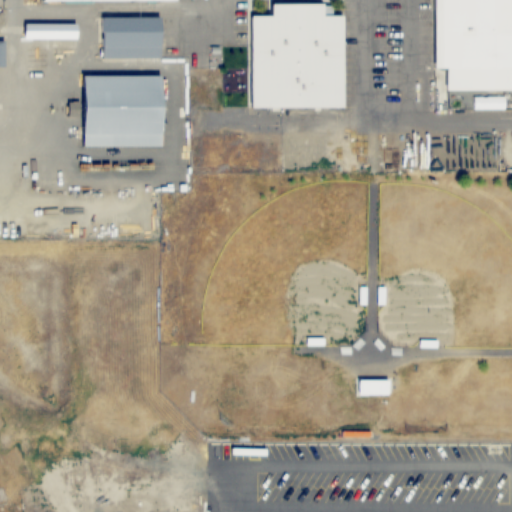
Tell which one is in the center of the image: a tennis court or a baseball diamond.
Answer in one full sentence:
You can see a baseball diamond in the center of the image.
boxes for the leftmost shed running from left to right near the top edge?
[26,24,80,40]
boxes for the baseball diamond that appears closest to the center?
[202,182,368,346]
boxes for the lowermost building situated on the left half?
[83,75,164,146]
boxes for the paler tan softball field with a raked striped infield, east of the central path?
[379,184,512,348]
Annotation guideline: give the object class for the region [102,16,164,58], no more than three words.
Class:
building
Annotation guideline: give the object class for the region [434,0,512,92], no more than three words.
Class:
building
